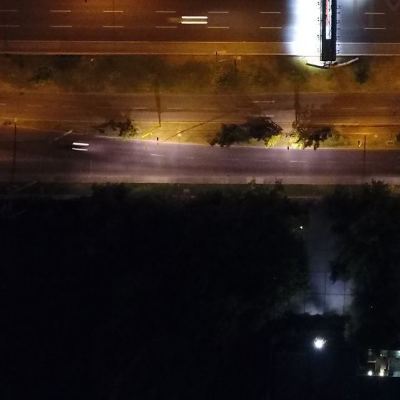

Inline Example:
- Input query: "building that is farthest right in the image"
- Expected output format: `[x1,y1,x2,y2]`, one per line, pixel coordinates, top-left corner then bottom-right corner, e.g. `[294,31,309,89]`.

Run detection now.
[366,343,400,379]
